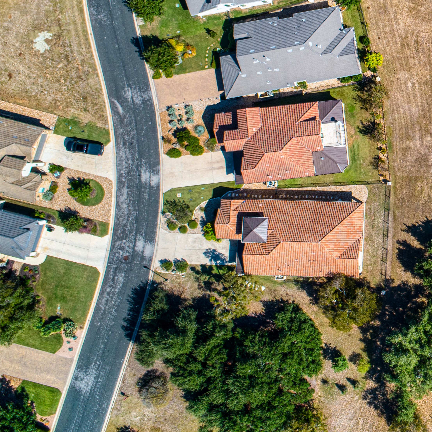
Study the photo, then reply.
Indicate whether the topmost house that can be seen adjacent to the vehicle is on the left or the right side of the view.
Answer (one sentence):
The topmost house that can be seen adjacent to the vehicle sits on the left side.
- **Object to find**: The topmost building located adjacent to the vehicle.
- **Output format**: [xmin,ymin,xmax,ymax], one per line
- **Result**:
[0,116,53,203]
